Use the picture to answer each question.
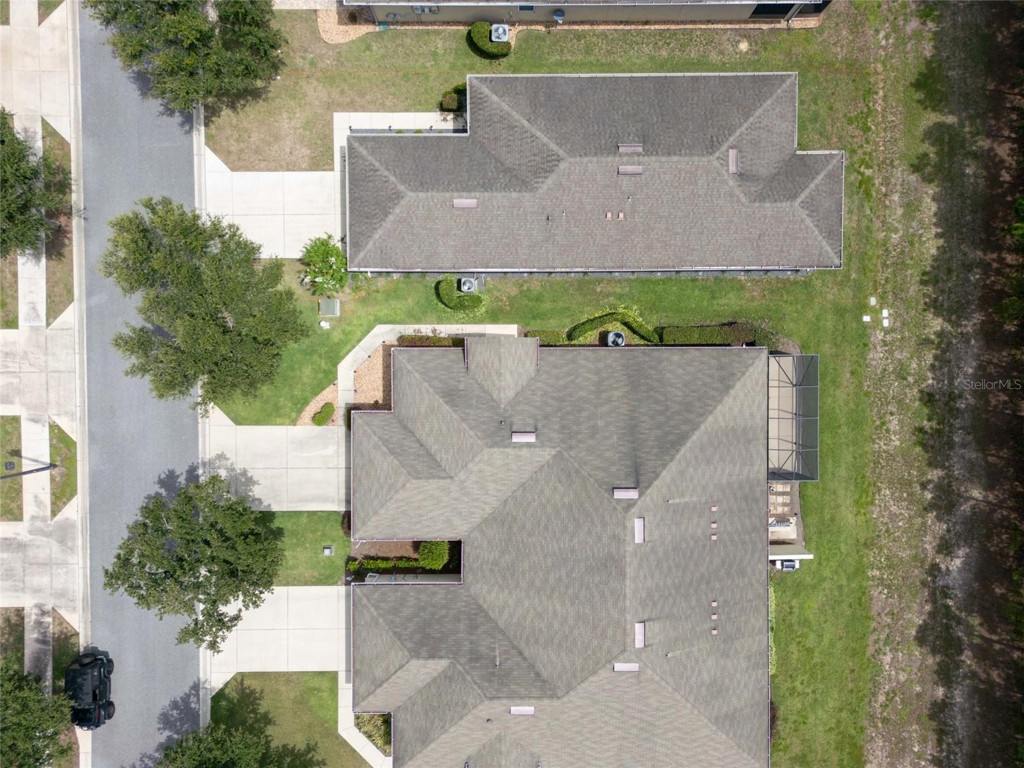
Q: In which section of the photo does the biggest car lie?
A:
bottom left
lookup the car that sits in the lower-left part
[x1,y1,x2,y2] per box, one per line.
[67,648,114,730]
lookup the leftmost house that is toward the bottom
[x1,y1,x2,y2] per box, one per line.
[352,337,768,768]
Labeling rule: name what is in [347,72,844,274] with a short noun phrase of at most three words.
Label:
house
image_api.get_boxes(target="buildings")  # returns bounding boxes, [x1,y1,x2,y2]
[343,0,836,23]
[352,337,768,768]
[347,72,844,274]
